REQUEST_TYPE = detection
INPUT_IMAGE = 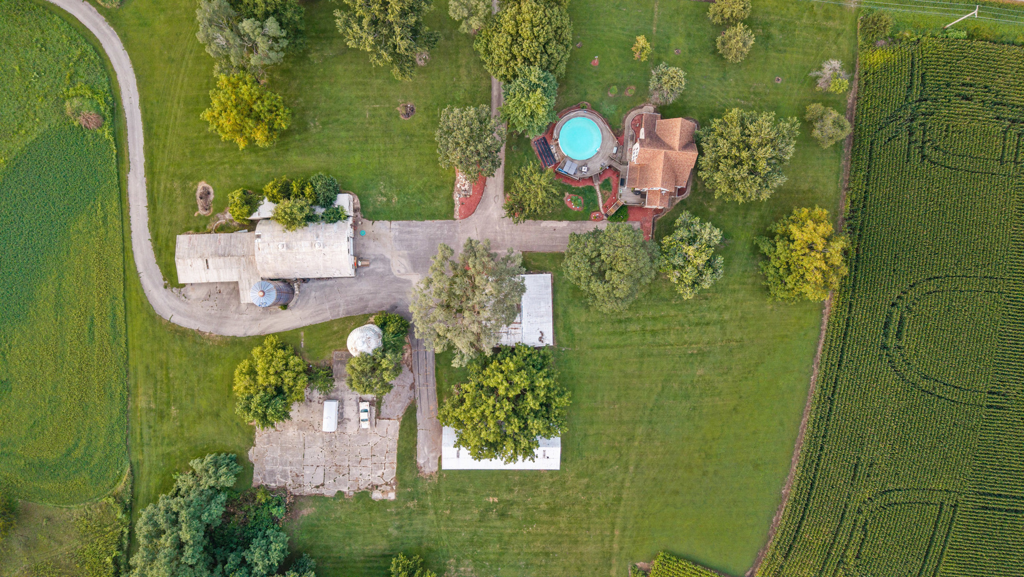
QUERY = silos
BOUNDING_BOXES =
[346,325,379,359]
[250,280,294,307]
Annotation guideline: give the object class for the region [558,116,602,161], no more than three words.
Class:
swimming pool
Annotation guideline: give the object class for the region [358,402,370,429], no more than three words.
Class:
vehicle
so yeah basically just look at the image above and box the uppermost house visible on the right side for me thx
[625,112,698,209]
